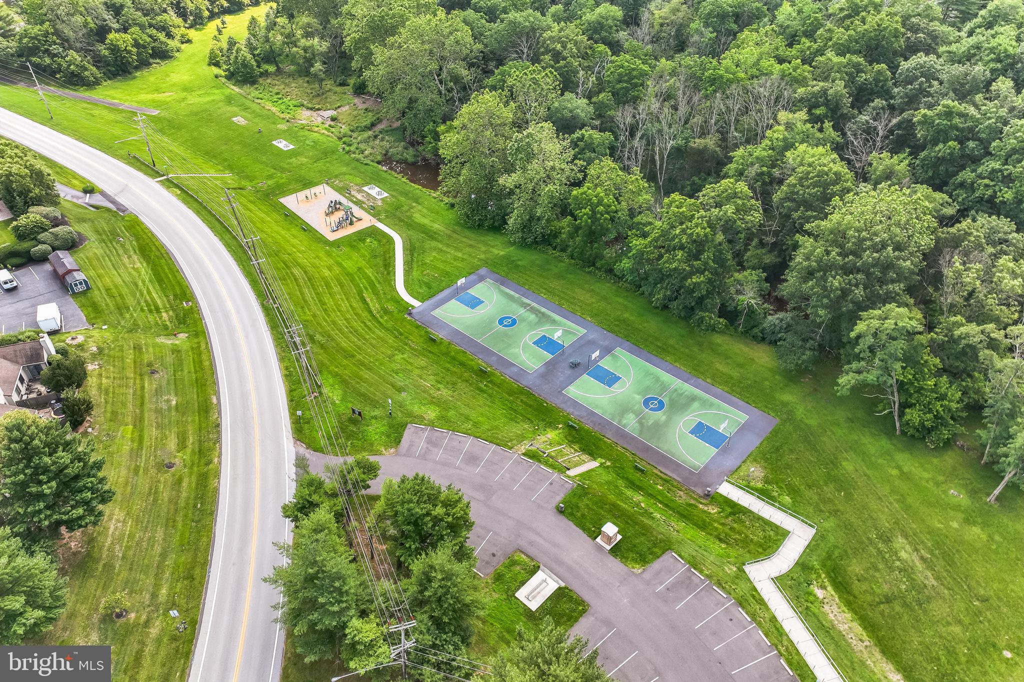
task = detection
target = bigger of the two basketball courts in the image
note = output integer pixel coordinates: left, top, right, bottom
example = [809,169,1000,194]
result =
[563,348,749,473]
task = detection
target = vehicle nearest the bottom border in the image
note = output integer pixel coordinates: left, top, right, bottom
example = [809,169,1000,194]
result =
[38,298,64,329]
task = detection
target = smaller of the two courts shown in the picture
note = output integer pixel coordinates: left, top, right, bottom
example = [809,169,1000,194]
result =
[431,279,587,373]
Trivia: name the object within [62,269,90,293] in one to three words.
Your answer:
shed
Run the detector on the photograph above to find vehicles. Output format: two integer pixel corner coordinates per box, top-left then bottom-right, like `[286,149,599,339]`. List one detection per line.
[38,298,64,329]
[0,268,16,288]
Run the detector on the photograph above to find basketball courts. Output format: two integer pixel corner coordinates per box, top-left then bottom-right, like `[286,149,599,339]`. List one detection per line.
[563,348,749,473]
[431,279,587,373]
